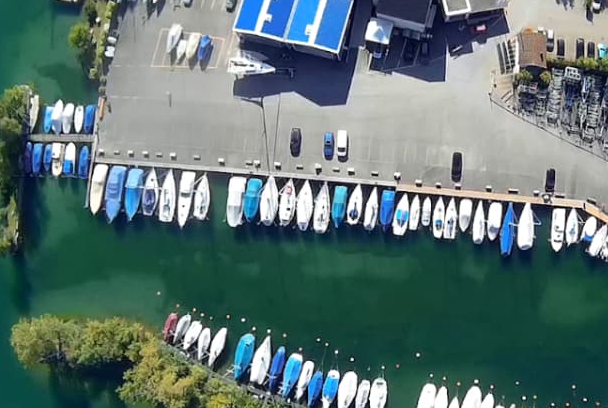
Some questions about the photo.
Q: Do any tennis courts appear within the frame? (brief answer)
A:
No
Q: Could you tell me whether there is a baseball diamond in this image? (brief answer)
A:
No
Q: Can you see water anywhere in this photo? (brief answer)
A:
Yes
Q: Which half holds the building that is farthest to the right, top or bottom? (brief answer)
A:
top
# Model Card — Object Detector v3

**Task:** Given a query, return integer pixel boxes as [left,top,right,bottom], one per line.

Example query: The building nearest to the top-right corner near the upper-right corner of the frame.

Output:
[518,31,547,70]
